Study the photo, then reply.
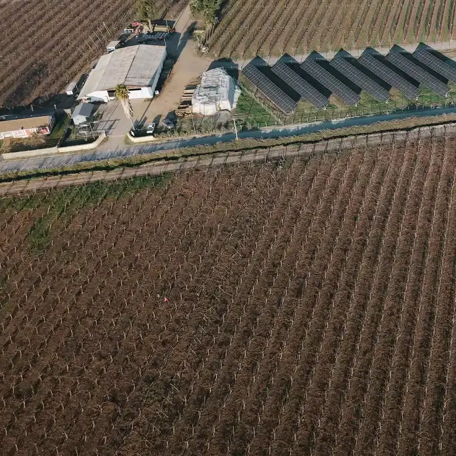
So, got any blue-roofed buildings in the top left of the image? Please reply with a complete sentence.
No, no blue-roofed building appears in the top left of the image.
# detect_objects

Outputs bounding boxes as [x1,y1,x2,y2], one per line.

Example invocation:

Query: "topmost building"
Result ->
[67,39,166,104]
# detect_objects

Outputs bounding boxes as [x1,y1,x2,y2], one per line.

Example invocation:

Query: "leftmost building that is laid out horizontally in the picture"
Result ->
[0,110,56,139]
